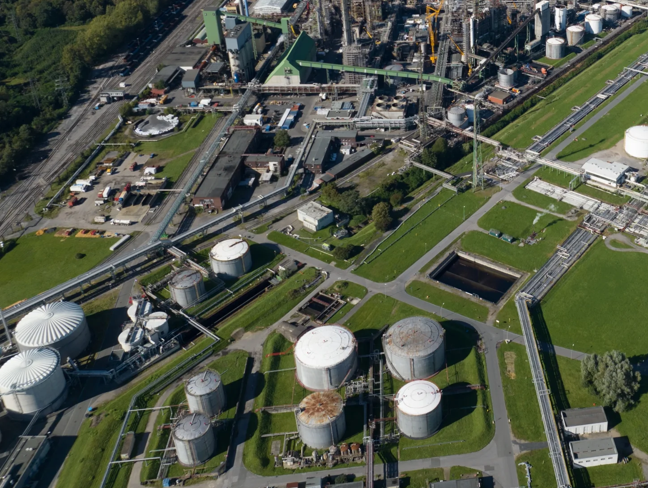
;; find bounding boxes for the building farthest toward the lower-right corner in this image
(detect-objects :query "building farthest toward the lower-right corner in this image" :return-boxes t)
[569,437,618,469]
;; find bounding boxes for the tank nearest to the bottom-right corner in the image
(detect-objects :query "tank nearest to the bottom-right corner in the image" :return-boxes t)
[394,378,442,441]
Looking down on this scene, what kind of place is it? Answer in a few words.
industrial area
